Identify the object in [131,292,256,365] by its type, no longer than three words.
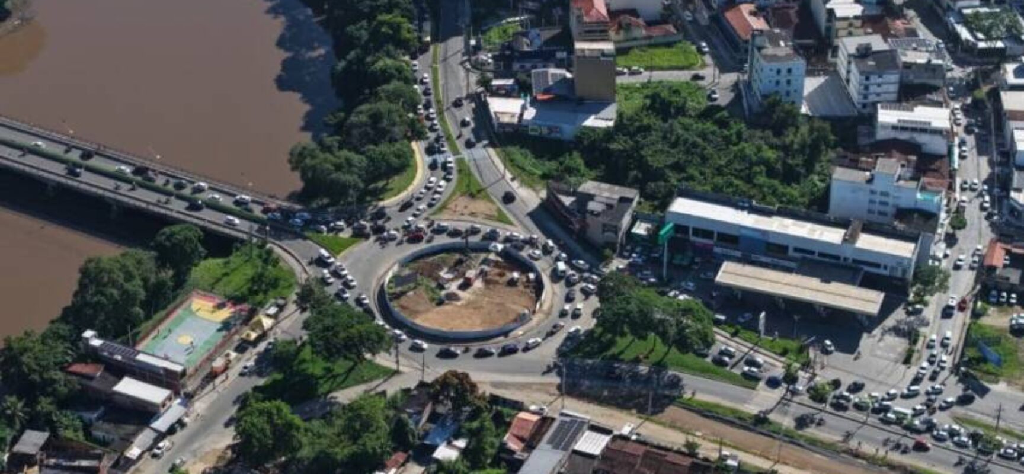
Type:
sports court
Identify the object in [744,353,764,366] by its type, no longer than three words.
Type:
vehicle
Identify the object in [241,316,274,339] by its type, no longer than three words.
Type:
tent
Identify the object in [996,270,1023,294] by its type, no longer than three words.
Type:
shed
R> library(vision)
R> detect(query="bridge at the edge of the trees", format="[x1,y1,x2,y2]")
[0,114,304,239]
